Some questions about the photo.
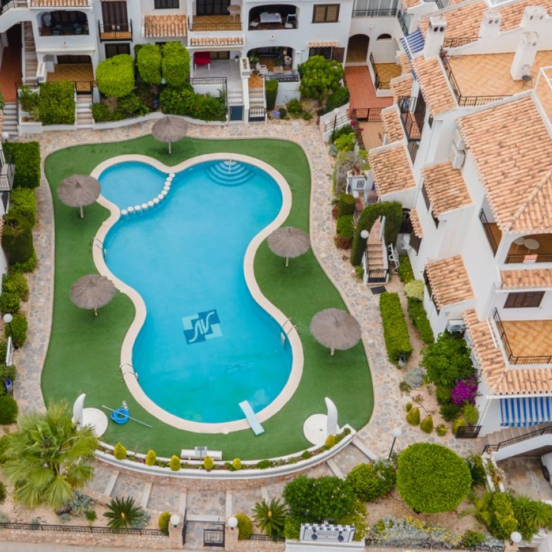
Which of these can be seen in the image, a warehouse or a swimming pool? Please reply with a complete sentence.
Of the two, only a swimming pool appears.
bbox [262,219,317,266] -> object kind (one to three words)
umbrella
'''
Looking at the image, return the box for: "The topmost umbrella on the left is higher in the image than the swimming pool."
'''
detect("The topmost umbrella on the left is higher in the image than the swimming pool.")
[145,110,193,154]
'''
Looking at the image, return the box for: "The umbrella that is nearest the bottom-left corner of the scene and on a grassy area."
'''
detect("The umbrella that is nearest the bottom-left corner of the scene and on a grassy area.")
[65,266,119,316]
